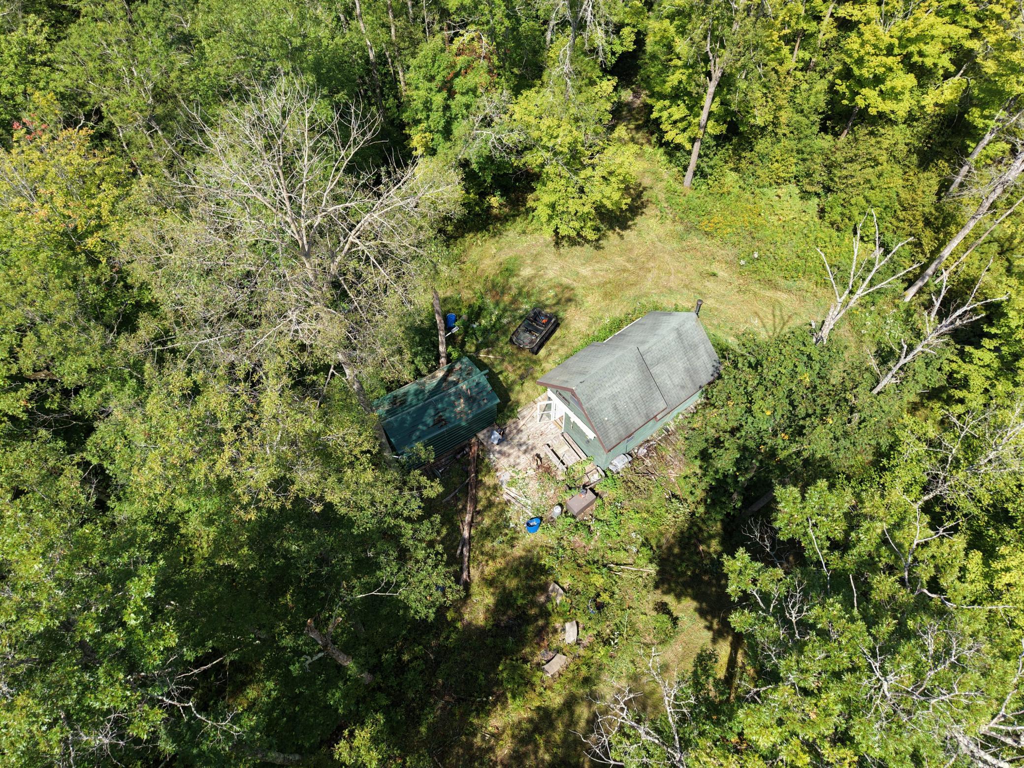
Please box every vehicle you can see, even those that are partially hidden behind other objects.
[508,309,560,357]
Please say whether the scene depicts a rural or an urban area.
rural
